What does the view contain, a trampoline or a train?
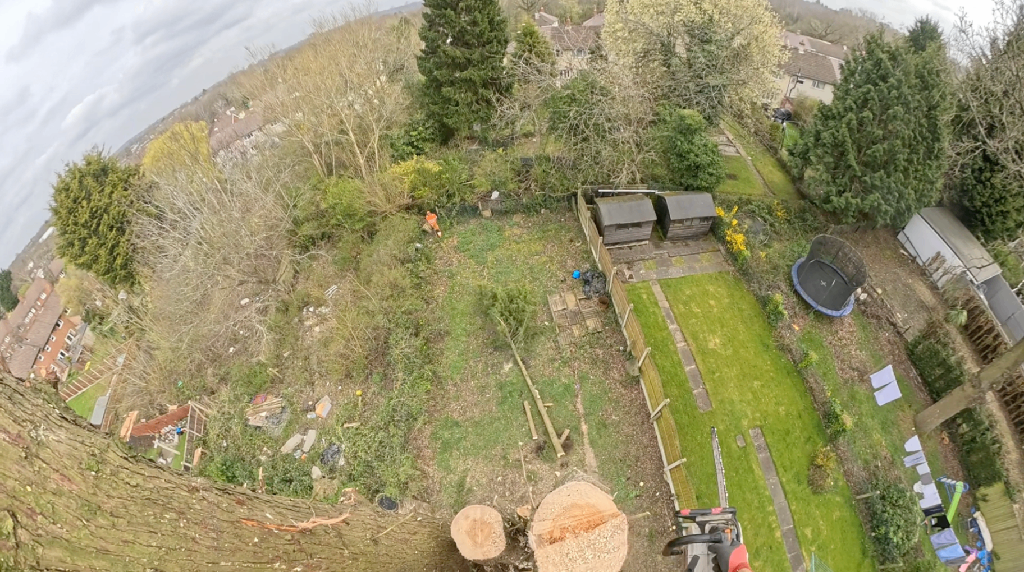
trampoline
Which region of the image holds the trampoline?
right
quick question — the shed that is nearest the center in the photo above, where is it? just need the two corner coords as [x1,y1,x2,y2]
[592,192,659,244]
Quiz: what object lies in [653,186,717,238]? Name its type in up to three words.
shed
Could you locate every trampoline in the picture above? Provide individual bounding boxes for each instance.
[785,232,874,320]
